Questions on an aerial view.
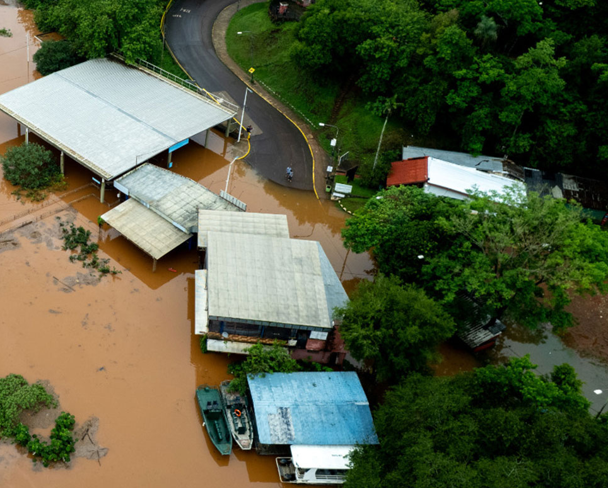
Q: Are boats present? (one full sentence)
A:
Yes, I can see a boat in this picture.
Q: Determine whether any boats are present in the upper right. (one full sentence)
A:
No, no boat appears in the upper right.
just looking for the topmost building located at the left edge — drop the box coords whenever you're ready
[0,58,237,204]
